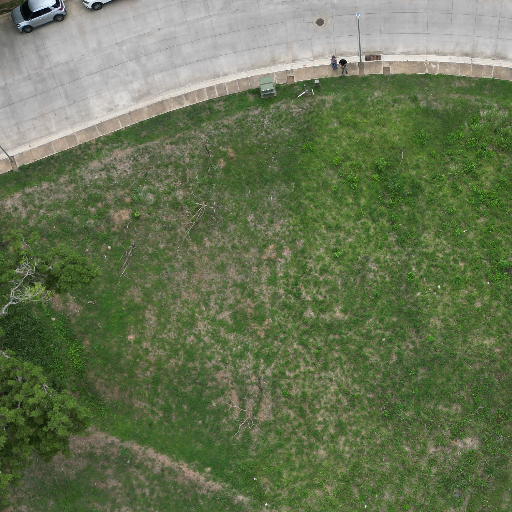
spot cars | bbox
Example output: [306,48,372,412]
[81,0,117,11]
[10,0,67,33]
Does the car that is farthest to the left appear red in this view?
No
